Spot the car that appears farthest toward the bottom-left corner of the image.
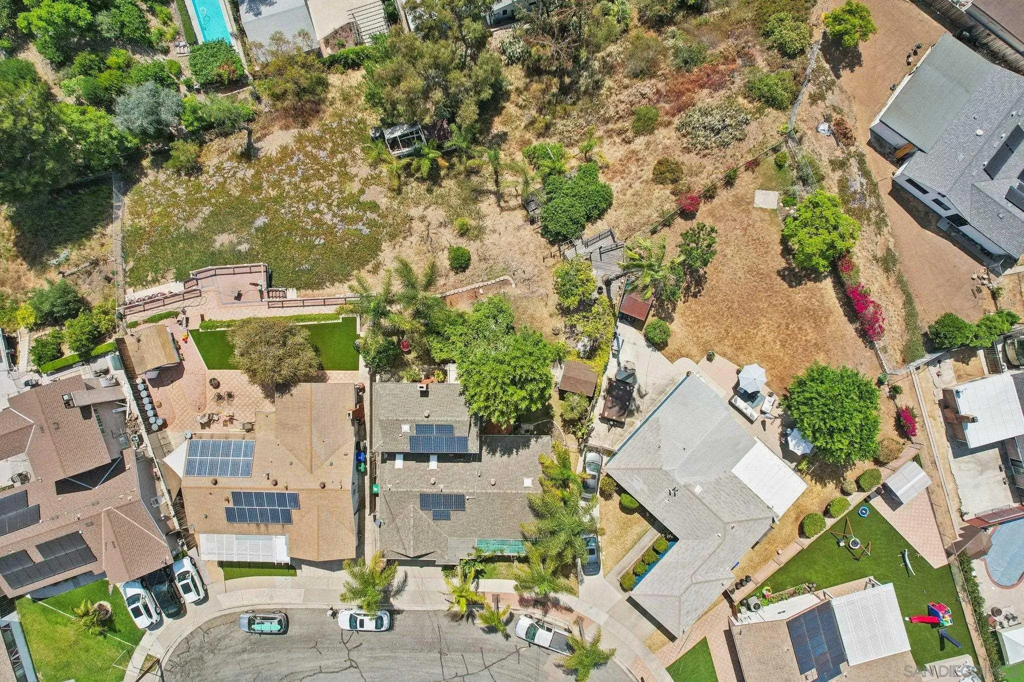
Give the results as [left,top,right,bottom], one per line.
[119,582,156,635]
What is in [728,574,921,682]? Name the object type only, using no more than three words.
house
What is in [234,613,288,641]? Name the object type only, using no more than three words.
car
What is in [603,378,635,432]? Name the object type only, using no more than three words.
trailer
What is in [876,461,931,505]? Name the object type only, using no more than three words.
shed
